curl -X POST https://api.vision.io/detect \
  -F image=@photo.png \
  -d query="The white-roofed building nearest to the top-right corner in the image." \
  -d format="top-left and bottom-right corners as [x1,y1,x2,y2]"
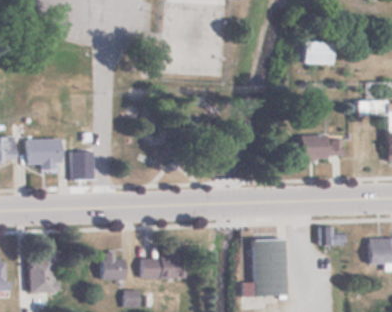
[304,42,336,66]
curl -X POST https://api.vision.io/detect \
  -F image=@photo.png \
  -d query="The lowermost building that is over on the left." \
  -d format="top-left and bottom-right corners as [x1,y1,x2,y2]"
[123,290,142,309]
